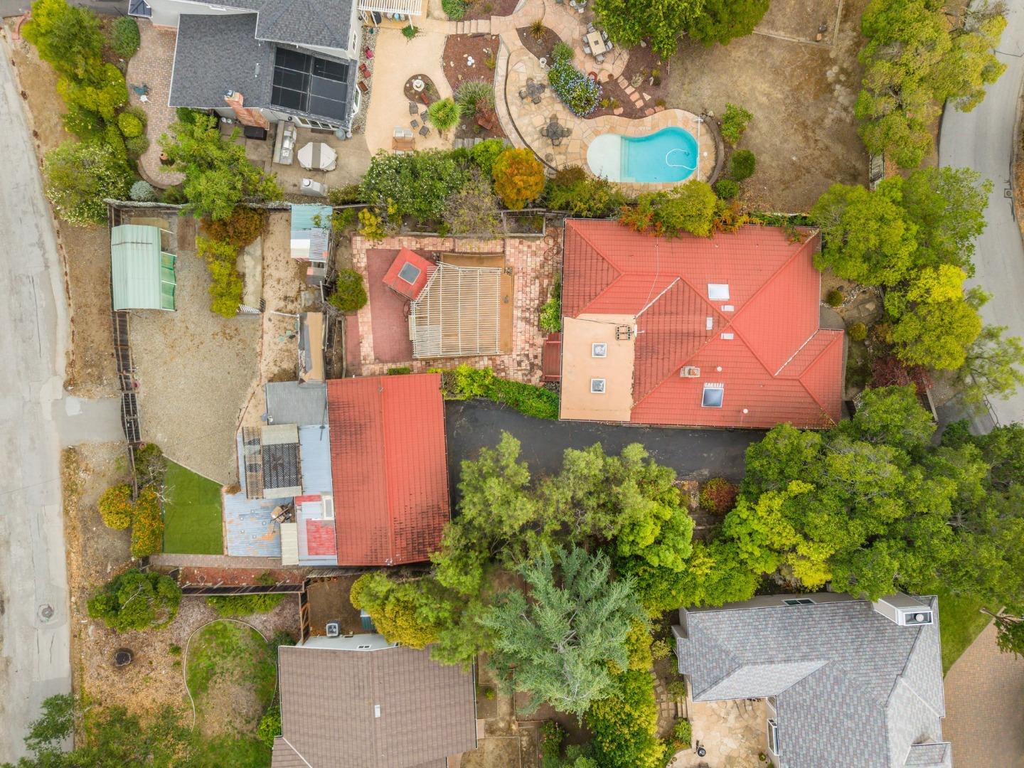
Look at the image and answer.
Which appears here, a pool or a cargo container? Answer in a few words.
pool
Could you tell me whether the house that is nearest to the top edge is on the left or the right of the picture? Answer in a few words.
left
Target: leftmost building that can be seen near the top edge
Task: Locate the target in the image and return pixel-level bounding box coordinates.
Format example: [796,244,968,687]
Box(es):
[127,0,361,134]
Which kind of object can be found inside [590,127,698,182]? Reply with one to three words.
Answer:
swimming pool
